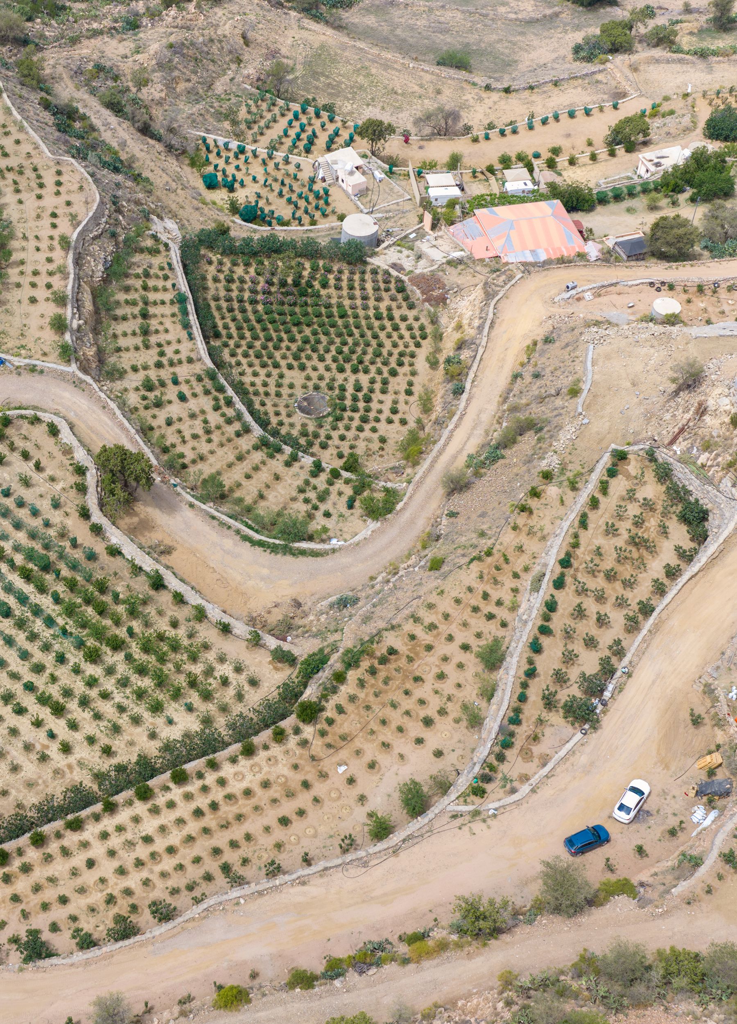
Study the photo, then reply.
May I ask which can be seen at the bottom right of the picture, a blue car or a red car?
blue car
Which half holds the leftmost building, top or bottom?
top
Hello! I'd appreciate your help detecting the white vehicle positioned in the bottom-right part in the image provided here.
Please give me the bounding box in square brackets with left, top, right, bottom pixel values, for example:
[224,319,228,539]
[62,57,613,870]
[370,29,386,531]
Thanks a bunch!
[615,779,651,824]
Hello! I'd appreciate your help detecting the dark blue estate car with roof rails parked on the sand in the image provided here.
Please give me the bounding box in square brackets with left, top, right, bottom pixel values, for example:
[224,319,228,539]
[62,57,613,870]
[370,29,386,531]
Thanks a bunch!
[564,824,611,855]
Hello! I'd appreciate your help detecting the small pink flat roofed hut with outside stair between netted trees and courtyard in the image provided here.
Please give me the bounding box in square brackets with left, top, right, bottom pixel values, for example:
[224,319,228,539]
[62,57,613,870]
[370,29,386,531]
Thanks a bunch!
[318,146,367,196]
